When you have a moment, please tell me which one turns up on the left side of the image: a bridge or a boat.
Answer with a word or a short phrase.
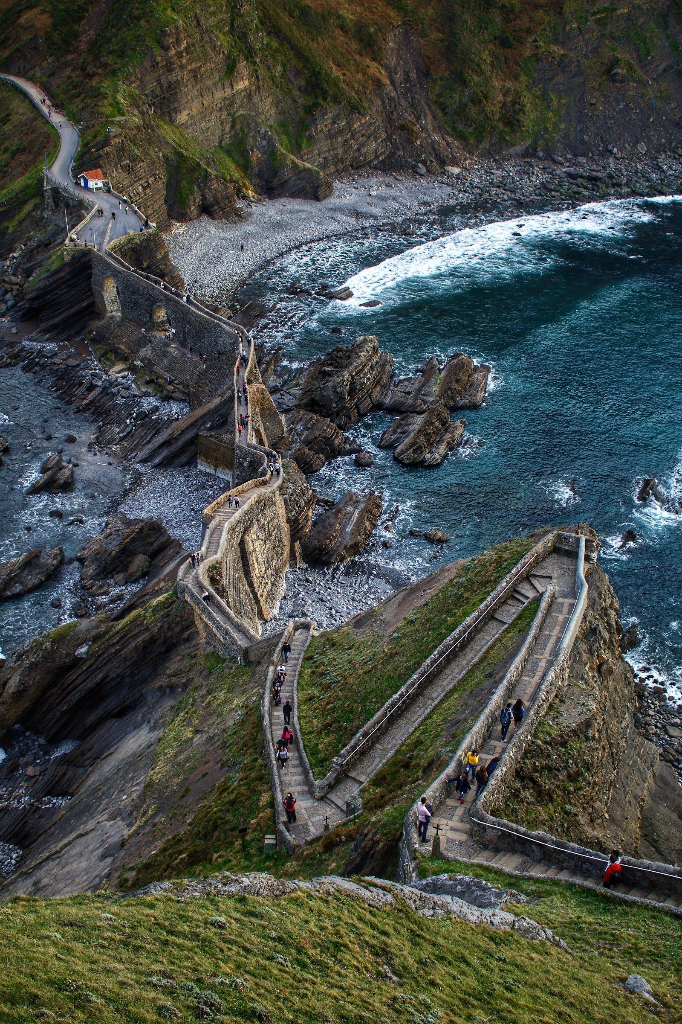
bridge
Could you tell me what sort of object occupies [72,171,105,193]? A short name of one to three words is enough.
shed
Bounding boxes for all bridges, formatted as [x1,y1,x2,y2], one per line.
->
[92,249,294,458]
